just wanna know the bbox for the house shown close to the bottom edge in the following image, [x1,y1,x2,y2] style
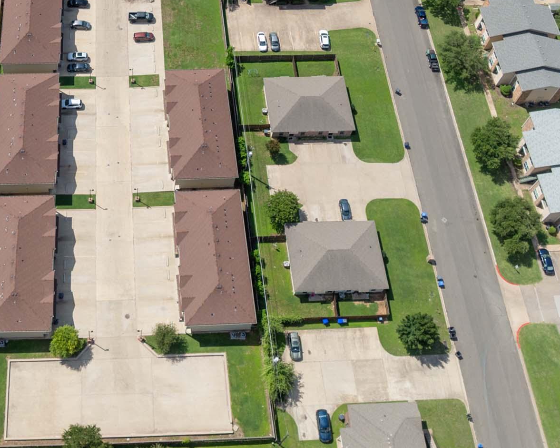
[339,401,427,448]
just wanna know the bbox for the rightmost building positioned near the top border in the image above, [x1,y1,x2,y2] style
[475,0,560,103]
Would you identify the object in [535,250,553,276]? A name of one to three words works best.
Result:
car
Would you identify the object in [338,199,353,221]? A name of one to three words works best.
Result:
car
